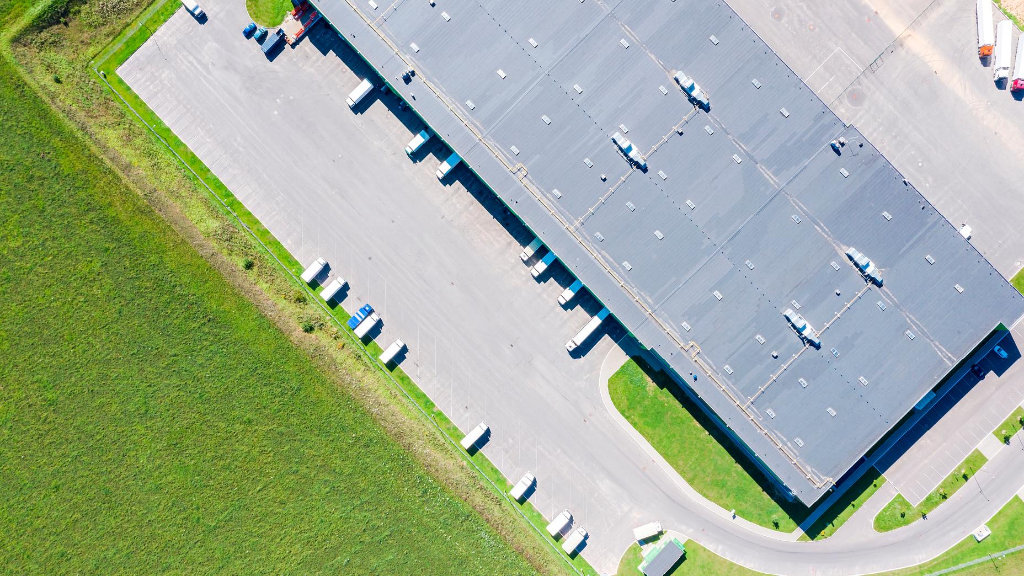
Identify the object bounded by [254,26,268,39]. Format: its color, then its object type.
blue vehicle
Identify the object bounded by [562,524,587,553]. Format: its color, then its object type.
white truck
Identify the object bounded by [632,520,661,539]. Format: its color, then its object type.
white vehicle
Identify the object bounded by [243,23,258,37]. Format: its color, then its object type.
blue car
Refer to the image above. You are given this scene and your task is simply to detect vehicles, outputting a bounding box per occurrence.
[283,35,294,45]
[978,0,996,58]
[243,23,258,37]
[632,520,661,539]
[511,470,535,498]
[261,28,287,55]
[461,421,488,448]
[435,153,460,180]
[320,275,348,301]
[404,130,431,157]
[354,312,382,338]
[562,524,587,553]
[181,0,205,18]
[346,79,373,108]
[971,365,985,379]
[291,9,320,39]
[565,307,609,352]
[301,256,329,282]
[379,337,406,364]
[546,507,572,535]
[993,345,1008,359]
[530,251,555,278]
[994,20,1014,80]
[957,221,973,237]
[1012,33,1024,92]
[557,280,582,304]
[254,26,268,39]
[518,239,541,263]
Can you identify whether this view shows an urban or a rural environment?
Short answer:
urban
